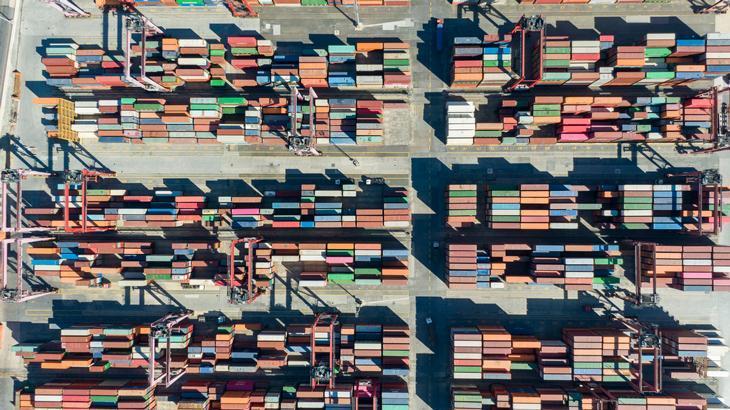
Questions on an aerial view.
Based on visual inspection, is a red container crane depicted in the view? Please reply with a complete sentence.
Yes, the picture does show a red container crane.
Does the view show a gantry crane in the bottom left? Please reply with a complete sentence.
Yes, in the bottom left there is a gantry crane.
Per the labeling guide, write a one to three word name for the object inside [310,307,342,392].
container crane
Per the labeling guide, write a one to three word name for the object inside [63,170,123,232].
container crane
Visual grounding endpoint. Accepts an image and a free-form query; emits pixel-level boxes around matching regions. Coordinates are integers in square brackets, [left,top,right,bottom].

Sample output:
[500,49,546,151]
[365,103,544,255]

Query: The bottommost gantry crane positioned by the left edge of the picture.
[0,231,66,304]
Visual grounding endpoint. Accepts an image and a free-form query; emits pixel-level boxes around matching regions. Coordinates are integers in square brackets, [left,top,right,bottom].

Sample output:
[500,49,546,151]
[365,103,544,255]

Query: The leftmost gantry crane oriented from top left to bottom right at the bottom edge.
[565,379,620,410]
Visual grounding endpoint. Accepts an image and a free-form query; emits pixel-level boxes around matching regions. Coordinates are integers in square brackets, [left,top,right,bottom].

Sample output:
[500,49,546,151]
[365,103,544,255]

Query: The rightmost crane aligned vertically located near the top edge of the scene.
[498,14,545,100]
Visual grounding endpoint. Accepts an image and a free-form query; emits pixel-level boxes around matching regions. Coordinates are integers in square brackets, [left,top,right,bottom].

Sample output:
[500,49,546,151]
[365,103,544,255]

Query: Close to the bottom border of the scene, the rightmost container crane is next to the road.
[603,313,662,393]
